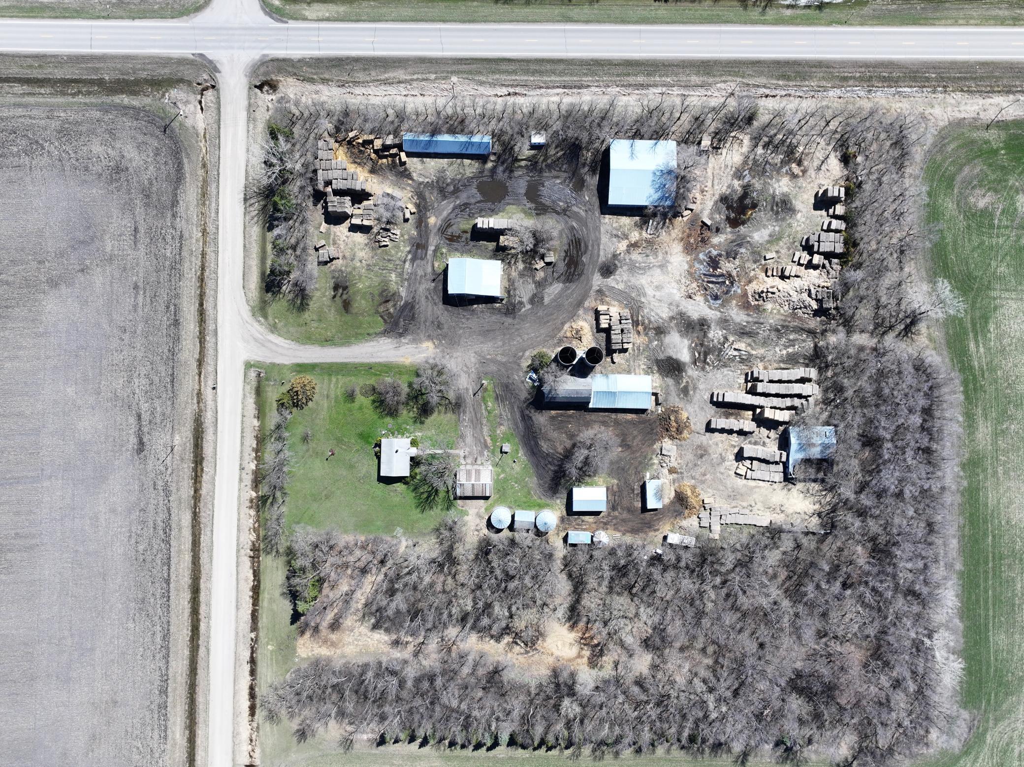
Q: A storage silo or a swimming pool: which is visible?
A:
storage silo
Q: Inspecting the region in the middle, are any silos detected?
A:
Yes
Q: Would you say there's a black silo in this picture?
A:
Yes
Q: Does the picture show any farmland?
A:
Yes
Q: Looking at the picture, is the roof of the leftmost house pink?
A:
No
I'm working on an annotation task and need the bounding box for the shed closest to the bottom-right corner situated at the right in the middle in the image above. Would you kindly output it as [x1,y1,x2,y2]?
[784,426,836,477]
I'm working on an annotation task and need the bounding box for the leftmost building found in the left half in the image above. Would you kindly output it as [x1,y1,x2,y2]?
[381,439,417,477]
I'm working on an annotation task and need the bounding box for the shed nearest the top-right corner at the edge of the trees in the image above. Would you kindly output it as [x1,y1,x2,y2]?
[607,140,676,210]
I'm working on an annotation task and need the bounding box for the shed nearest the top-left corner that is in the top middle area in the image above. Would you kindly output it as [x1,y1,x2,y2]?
[403,133,491,156]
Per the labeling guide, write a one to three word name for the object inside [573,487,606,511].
shed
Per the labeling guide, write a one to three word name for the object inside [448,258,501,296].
shed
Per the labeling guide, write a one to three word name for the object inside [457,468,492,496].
building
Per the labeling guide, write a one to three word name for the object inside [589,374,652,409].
barn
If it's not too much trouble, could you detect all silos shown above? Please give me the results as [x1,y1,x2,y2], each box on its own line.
[536,508,556,530]
[491,505,511,528]
[556,346,576,365]
[592,529,609,546]
[583,346,604,365]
